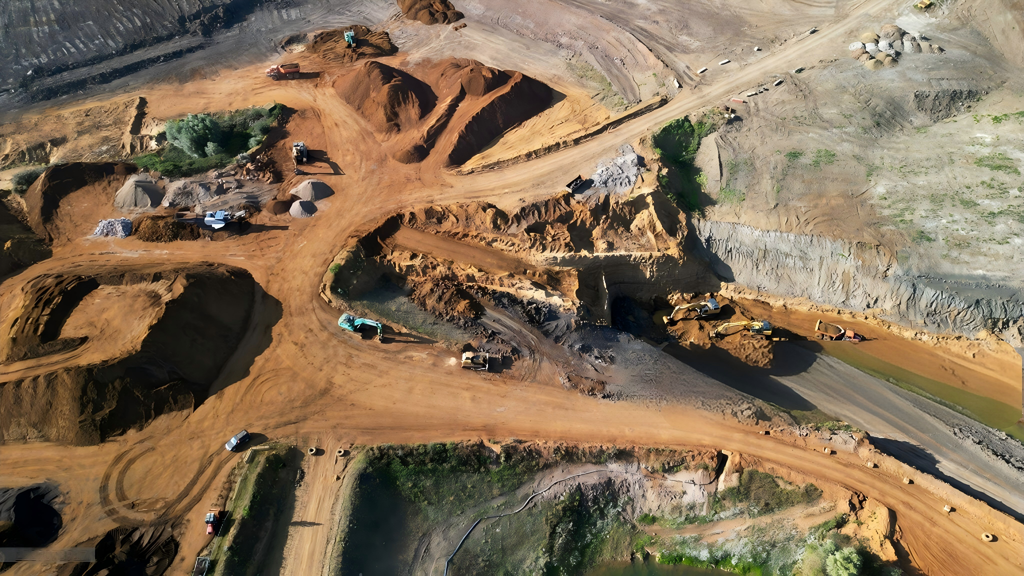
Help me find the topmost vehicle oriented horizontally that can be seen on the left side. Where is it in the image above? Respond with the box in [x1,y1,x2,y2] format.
[267,64,298,78]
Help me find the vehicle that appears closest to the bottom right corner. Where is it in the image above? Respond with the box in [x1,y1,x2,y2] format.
[817,323,864,344]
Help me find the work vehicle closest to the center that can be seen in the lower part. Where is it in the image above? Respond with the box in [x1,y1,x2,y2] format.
[459,355,491,376]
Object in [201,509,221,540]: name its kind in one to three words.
work vehicle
